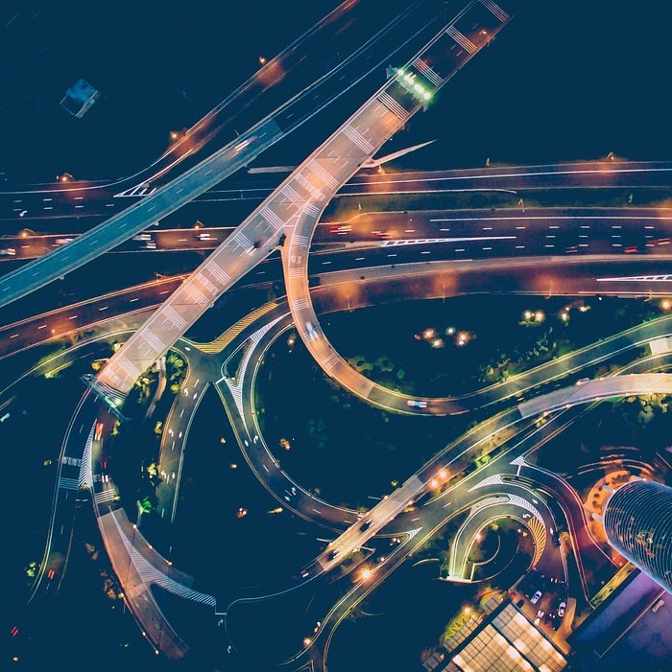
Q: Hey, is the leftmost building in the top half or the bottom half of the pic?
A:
top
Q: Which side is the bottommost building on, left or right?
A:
right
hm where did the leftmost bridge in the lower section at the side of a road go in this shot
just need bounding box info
[94,501,217,672]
